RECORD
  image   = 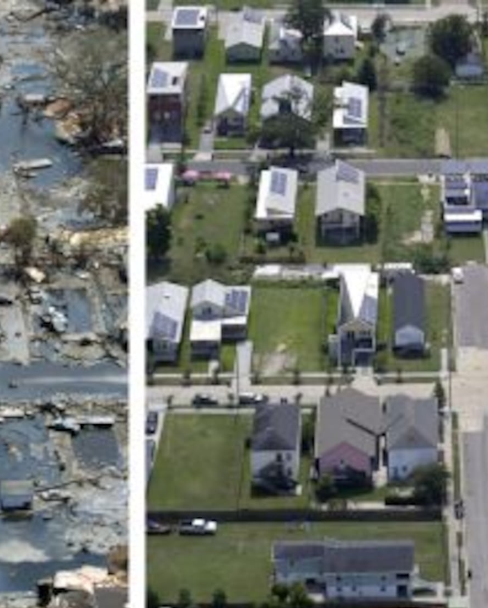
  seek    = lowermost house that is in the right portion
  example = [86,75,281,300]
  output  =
[277,535,414,596]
